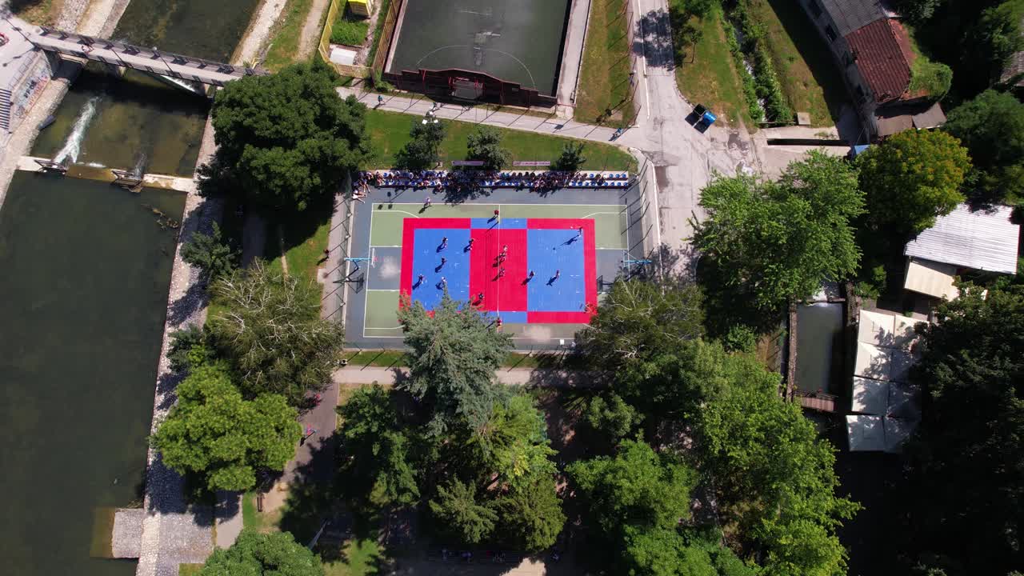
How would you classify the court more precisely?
basketball court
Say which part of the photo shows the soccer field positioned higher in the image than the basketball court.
top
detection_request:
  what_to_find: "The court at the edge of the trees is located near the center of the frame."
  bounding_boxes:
[345,184,646,353]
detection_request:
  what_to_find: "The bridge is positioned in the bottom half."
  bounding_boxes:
[789,395,840,412]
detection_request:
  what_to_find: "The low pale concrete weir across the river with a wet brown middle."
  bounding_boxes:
[14,155,194,192]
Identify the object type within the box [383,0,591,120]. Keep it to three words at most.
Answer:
soccer field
